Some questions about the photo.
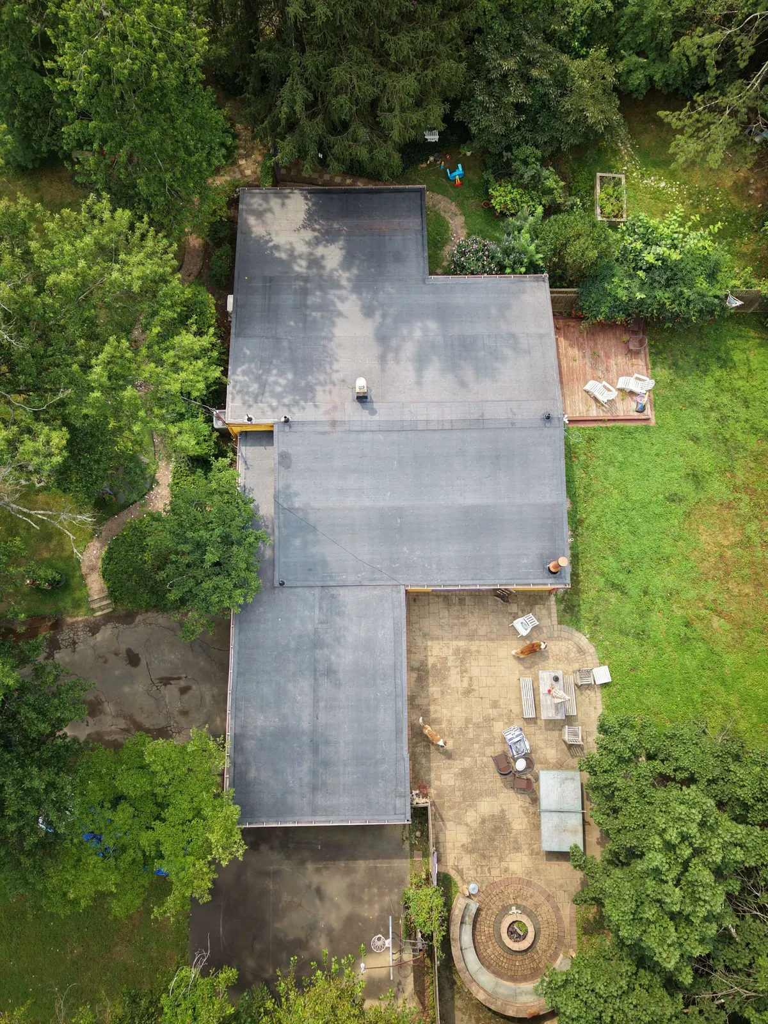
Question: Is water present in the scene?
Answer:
No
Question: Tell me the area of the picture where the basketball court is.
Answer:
bottom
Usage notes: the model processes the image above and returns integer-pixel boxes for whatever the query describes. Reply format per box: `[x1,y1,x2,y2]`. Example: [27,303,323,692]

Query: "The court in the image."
[189,800,416,1024]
